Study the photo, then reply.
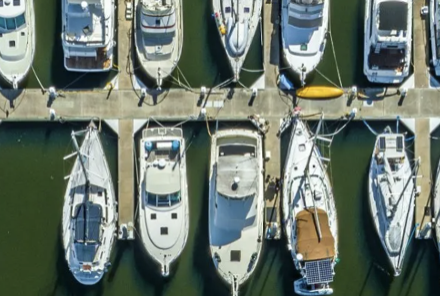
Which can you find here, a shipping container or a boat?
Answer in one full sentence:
The image shows a boat.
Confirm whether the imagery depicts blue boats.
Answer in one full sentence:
Yes, a blue boat appears in the view.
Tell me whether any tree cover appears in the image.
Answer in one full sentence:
No, tree cover can't be seen anywhere here.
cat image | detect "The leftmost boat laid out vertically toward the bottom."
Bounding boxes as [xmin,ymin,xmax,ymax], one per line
[61,117,117,286]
